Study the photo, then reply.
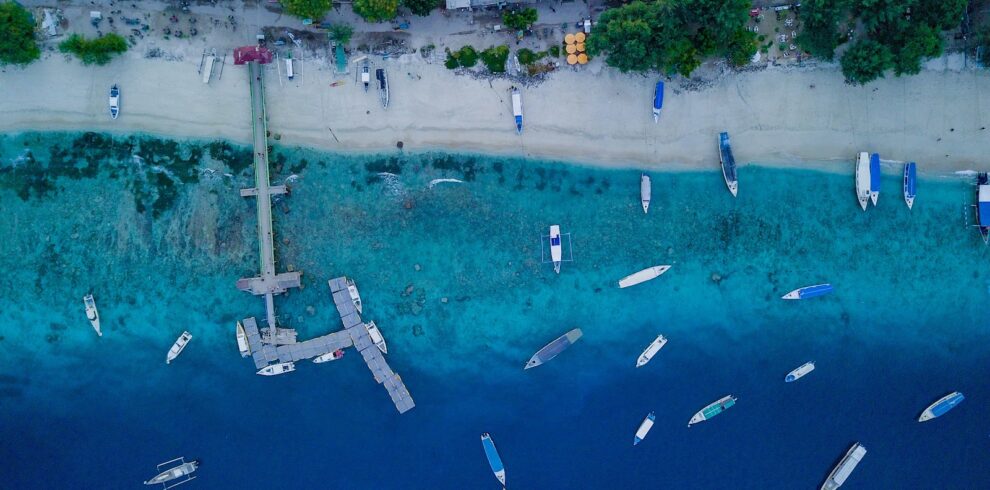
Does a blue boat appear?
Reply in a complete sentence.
Yes, there's a blue boat down there.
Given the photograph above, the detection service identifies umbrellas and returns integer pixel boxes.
[574,32,585,43]
[566,43,576,54]
[565,34,575,43]
[577,53,588,64]
[567,54,577,65]
[576,43,585,52]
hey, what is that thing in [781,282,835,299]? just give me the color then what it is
blue boat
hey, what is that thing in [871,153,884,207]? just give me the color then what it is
blue boat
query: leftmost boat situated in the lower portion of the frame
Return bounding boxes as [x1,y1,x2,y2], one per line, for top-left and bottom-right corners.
[84,294,102,337]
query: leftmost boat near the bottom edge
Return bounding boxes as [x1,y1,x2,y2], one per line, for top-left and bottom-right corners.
[144,455,198,488]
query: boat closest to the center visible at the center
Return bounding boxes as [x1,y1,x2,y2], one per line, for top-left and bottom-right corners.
[539,224,564,274]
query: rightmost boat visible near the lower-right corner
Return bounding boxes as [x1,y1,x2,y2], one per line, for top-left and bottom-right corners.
[917,391,969,422]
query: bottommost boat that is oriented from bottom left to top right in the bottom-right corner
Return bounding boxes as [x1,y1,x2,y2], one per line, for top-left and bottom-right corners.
[821,440,869,490]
